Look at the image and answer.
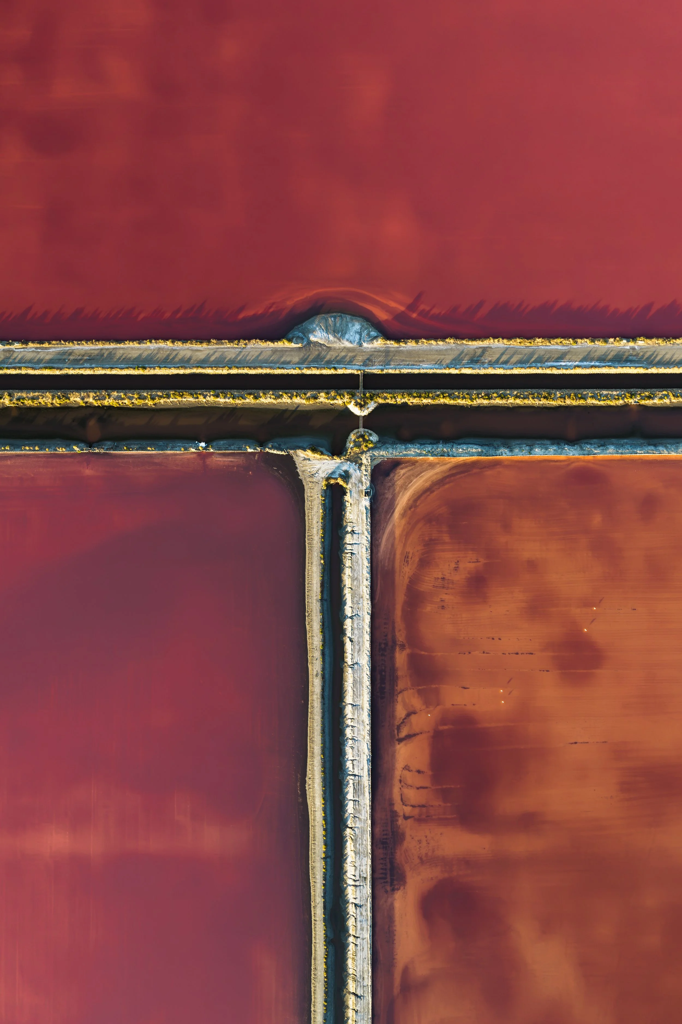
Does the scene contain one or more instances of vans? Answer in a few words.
No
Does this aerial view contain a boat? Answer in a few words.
No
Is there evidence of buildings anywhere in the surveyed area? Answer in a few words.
No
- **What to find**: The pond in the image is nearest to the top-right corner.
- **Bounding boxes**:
[0,0,682,341]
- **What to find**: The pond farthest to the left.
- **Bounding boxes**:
[0,451,313,1024]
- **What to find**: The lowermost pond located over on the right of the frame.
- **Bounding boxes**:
[370,454,682,1024]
